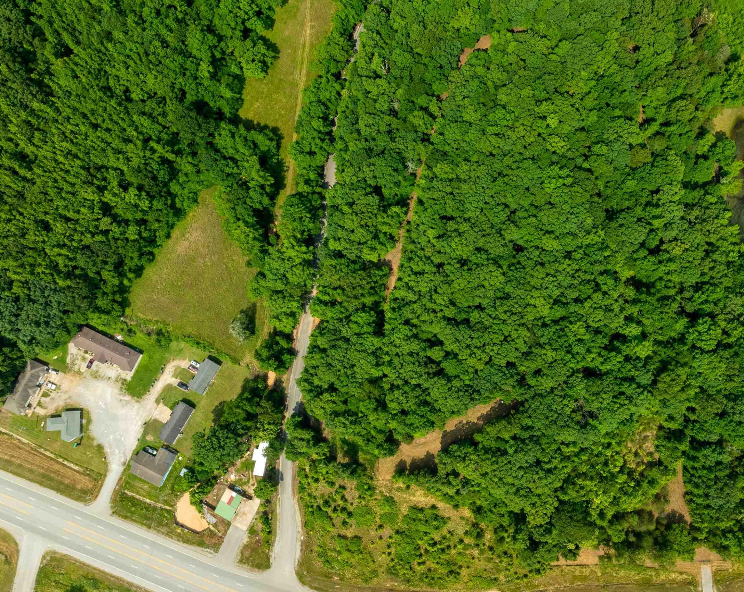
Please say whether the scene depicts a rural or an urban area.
rural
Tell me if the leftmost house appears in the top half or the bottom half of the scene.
bottom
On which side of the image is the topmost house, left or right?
left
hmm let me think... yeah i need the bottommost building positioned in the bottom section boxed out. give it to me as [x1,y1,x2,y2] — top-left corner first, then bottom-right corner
[209,489,244,521]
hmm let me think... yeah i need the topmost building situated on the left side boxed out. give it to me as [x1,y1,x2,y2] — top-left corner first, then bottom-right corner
[75,326,146,374]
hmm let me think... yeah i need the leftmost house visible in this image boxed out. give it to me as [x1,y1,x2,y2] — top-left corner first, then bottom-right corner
[3,359,54,415]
